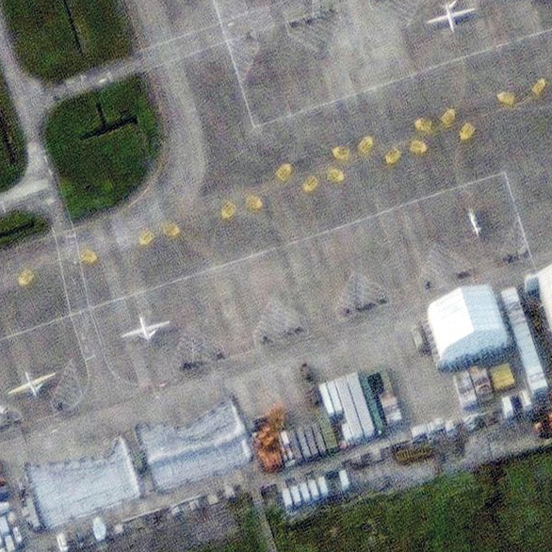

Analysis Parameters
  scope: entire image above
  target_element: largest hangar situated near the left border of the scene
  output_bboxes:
[26,435,142,530]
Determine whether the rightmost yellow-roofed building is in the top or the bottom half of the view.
bottom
